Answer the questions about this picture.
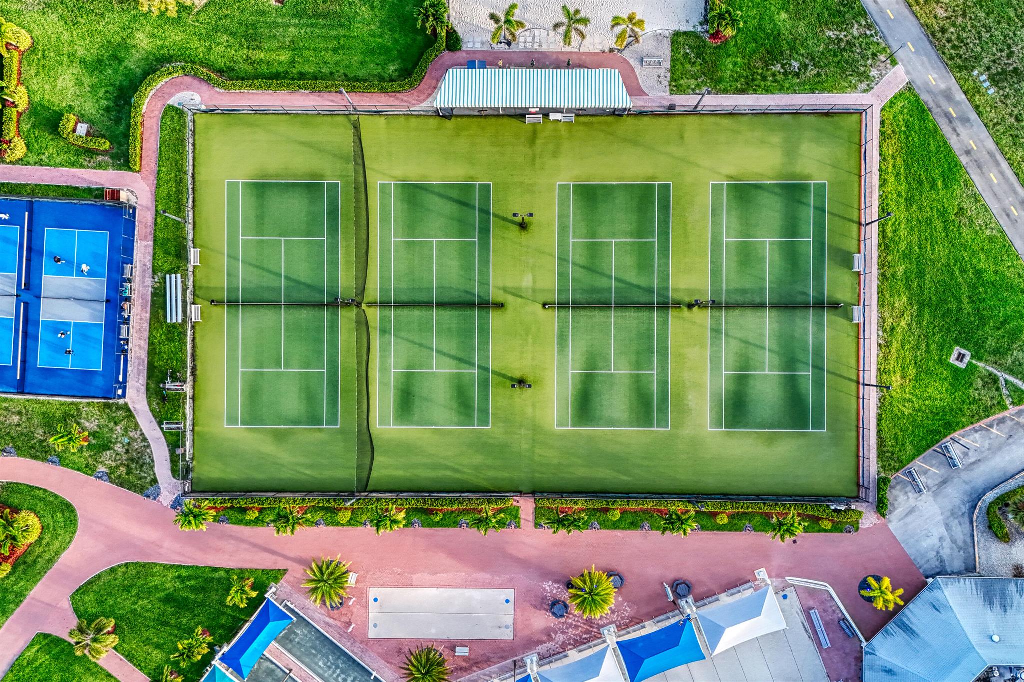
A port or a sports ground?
sports ground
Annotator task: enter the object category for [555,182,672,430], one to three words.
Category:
tennis court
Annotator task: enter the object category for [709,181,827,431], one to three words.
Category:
tennis court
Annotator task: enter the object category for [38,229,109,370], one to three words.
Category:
sports court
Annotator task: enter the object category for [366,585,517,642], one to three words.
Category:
sports court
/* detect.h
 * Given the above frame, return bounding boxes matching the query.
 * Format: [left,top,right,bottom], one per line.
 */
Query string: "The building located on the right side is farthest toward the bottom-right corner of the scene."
[863,576,1024,682]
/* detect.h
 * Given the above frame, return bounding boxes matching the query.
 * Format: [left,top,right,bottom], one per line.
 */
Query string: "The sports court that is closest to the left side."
[0,225,20,366]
